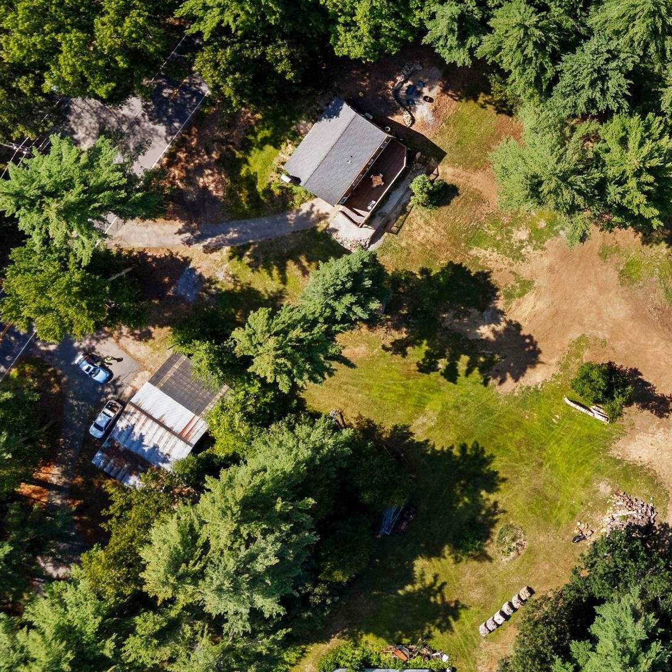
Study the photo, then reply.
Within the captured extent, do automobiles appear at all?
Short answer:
Yes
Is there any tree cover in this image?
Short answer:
Yes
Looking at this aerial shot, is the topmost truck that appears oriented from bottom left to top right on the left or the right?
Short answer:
left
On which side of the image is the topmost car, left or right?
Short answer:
left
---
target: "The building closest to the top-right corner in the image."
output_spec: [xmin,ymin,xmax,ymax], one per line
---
[285,96,412,228]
